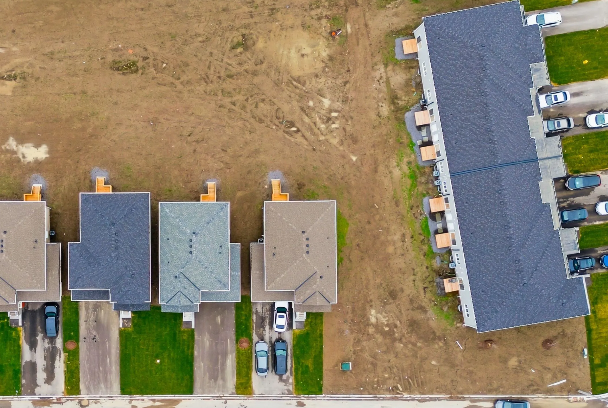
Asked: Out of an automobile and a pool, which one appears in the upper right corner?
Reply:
automobile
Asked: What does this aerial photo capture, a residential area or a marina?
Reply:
residential area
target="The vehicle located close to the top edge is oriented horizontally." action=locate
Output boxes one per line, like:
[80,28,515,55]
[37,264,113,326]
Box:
[526,10,563,27]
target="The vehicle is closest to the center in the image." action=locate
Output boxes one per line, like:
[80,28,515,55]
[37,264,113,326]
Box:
[273,302,289,334]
